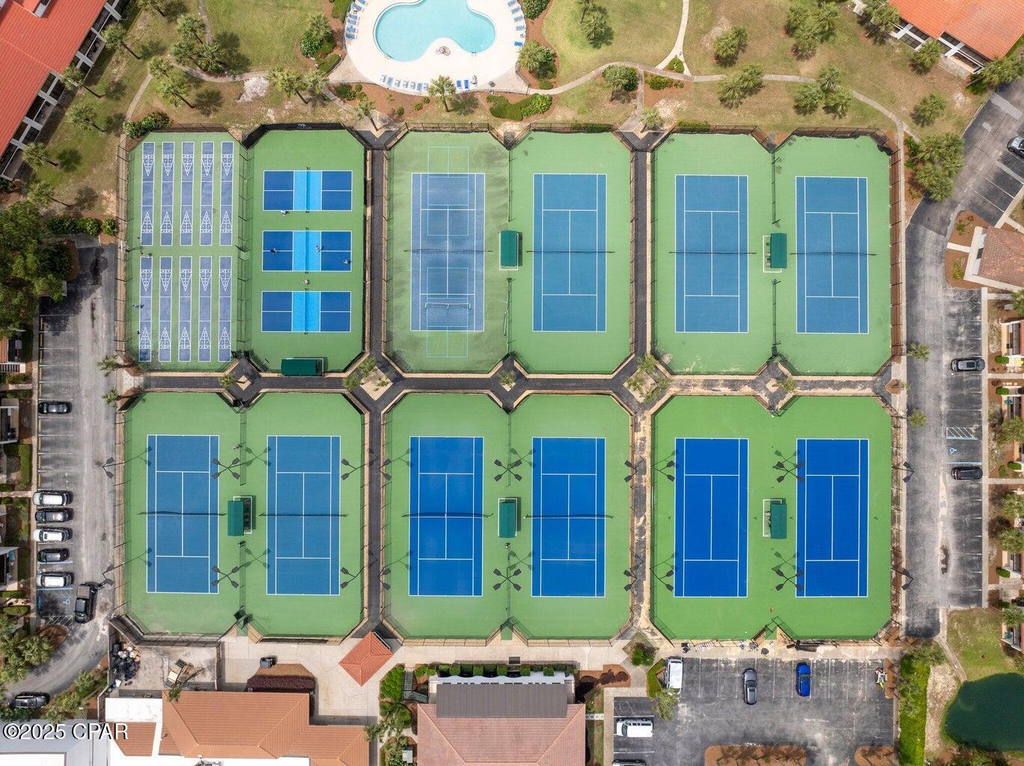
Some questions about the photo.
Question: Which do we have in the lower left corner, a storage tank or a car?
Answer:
car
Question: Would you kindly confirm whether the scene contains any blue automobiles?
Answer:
Yes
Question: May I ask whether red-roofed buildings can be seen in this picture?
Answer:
Yes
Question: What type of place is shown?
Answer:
sports ground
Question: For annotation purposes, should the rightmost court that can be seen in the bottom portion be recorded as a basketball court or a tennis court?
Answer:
tennis court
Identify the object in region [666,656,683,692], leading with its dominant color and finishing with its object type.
white vehicle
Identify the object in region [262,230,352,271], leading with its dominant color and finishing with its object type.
blue sports court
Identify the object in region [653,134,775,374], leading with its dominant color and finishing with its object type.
green tennis court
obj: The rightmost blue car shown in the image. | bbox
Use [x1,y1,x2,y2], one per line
[796,663,812,695]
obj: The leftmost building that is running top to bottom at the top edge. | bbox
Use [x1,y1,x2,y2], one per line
[0,38,68,200]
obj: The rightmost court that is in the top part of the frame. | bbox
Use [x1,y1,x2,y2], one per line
[773,135,891,375]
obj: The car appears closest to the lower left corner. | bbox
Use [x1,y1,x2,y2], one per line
[13,692,50,709]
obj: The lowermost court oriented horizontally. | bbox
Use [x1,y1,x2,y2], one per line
[261,291,351,333]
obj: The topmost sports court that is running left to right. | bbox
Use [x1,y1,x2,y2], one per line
[263,169,352,211]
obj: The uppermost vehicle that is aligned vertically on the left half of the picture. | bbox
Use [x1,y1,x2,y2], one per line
[75,583,95,622]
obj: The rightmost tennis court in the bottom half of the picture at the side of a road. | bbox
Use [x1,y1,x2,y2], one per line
[773,397,892,641]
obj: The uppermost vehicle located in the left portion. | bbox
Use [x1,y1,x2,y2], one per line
[40,400,73,415]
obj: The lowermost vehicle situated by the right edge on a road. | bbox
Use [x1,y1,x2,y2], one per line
[950,465,983,481]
